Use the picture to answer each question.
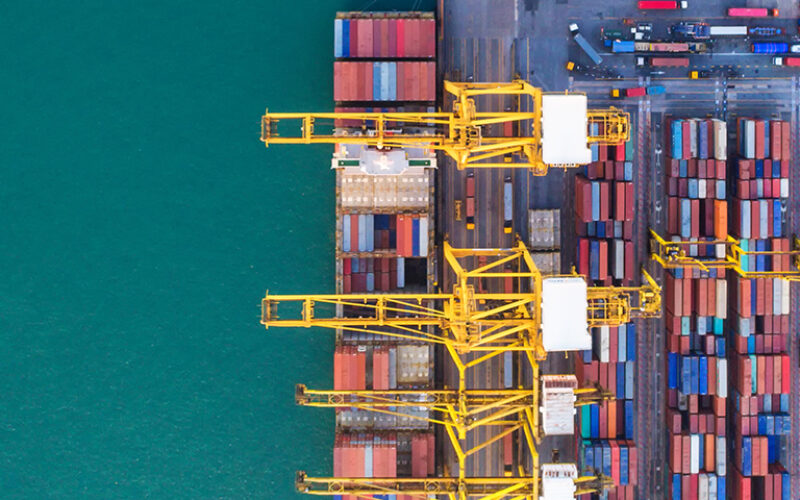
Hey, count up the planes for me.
zero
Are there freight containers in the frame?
Yes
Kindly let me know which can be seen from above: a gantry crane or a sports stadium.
gantry crane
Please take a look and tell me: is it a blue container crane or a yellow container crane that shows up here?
yellow container crane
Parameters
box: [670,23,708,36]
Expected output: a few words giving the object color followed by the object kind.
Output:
blue vehicle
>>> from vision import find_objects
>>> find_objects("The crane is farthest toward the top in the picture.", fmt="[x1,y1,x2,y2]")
[262,73,627,181]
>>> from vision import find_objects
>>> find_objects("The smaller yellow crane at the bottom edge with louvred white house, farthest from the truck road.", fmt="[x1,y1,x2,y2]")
[296,399,616,500]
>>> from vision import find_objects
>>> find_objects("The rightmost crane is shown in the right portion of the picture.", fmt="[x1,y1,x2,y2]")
[725,234,800,277]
